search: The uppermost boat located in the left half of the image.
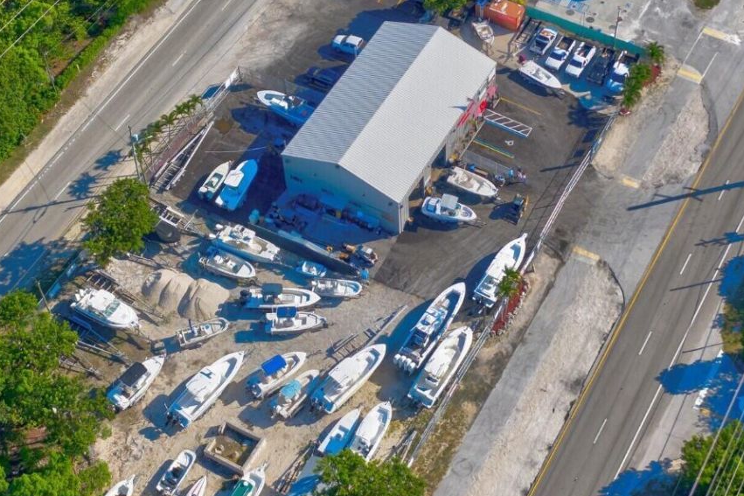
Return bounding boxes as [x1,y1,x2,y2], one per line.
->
[256,94,310,131]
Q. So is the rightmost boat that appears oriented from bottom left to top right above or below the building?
below it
